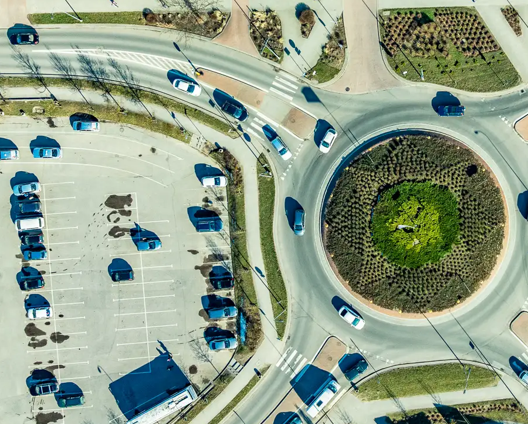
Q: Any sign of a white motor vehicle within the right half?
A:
Yes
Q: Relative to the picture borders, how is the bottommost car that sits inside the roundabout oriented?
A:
at an angle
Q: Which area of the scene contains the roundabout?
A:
right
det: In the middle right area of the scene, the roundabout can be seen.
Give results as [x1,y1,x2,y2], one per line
[277,87,528,362]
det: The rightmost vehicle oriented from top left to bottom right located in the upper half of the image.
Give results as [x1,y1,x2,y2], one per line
[267,134,295,162]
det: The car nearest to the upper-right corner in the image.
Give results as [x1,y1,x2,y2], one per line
[437,106,468,118]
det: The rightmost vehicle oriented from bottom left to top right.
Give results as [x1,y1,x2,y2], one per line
[342,359,369,382]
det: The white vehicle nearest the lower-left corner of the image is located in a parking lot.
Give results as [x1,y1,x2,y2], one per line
[28,305,55,319]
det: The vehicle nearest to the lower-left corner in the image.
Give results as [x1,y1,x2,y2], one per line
[30,381,61,396]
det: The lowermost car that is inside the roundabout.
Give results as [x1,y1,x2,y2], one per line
[338,305,366,330]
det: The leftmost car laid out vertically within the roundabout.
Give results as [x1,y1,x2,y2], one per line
[294,209,306,236]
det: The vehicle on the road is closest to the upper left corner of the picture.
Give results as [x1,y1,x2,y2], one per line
[10,32,41,45]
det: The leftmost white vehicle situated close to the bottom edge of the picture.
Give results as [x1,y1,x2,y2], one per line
[129,383,207,424]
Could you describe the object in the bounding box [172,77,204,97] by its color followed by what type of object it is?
white car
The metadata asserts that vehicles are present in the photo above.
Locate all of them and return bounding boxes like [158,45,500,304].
[195,219,224,232]
[342,359,369,382]
[437,106,468,118]
[172,77,204,97]
[20,232,47,247]
[305,380,340,418]
[220,99,251,123]
[30,381,61,396]
[15,217,46,231]
[0,149,22,161]
[208,336,239,350]
[211,275,238,287]
[338,305,366,330]
[10,32,41,45]
[111,269,135,282]
[73,119,102,132]
[294,209,306,236]
[267,134,295,162]
[320,127,338,154]
[129,383,207,424]
[208,305,239,319]
[136,235,162,254]
[58,392,86,407]
[13,181,44,196]
[201,175,229,188]
[33,145,63,159]
[28,305,55,319]
[16,200,47,215]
